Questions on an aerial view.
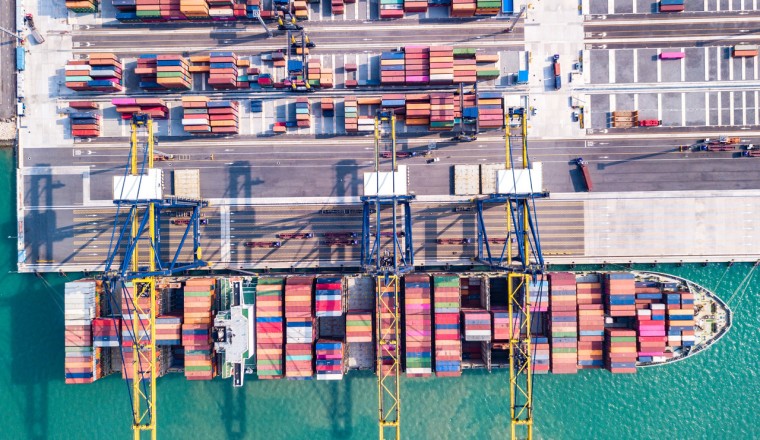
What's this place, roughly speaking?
port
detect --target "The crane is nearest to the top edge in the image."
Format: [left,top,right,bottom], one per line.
[269,0,299,31]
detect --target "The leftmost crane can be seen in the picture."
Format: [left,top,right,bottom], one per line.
[98,113,220,440]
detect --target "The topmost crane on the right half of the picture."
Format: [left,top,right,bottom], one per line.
[449,78,479,141]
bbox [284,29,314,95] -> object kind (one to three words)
crane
